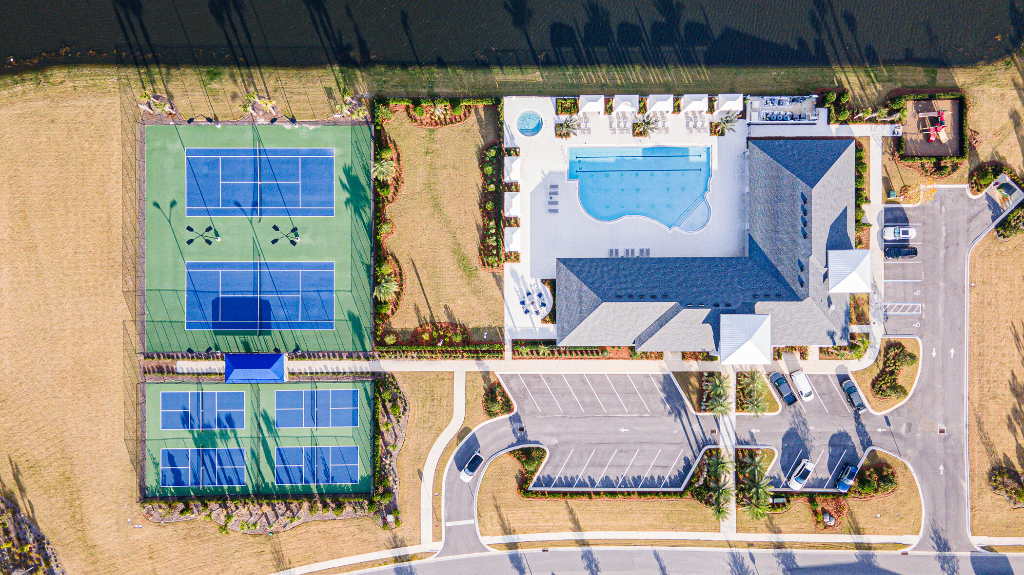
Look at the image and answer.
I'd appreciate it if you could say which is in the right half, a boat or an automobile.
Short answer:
automobile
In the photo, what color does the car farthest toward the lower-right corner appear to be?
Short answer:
blue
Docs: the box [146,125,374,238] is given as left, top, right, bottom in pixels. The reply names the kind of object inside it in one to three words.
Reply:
tennis court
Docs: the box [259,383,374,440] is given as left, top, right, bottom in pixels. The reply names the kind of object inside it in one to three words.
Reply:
sports court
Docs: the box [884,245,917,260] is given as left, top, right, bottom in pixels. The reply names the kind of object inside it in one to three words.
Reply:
car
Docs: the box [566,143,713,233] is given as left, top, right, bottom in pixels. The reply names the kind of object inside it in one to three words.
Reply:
swimming pool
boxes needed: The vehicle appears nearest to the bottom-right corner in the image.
[835,460,859,491]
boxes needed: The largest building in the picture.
[556,139,855,352]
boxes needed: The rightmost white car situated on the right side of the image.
[882,225,915,240]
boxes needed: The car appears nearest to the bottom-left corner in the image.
[460,450,485,482]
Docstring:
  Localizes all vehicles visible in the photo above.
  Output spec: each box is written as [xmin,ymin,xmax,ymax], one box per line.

[460,450,485,482]
[840,378,866,413]
[788,457,813,489]
[884,245,917,260]
[835,460,859,491]
[788,368,815,401]
[882,225,915,240]
[769,370,797,407]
